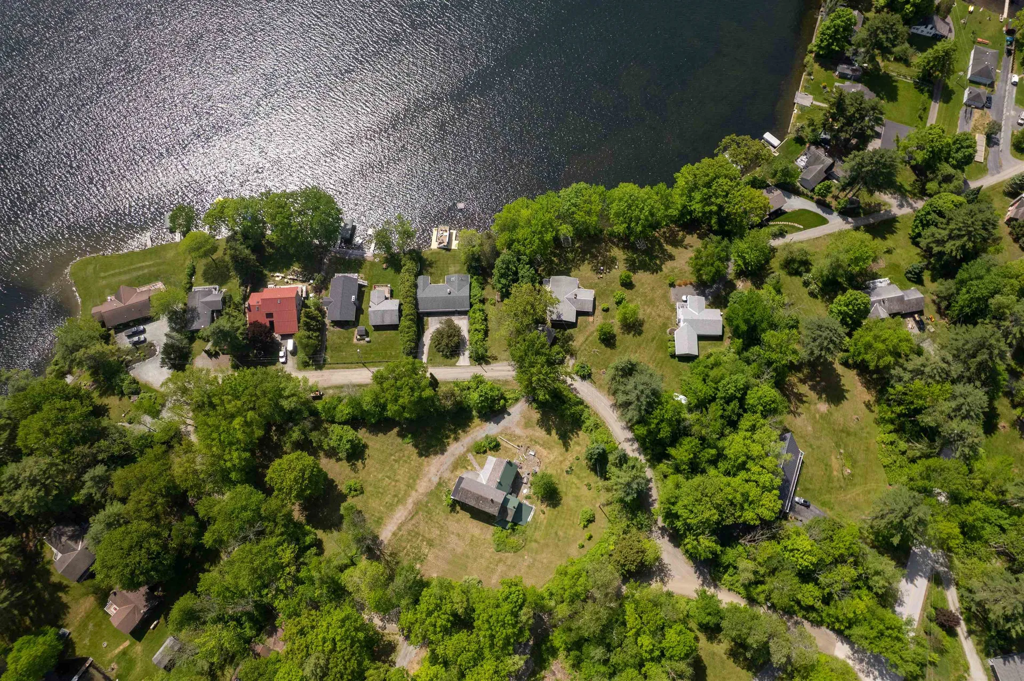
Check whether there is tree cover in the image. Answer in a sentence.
Yes, tree cover shows up in the scene.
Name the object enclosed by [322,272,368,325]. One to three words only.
house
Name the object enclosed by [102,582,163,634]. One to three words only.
house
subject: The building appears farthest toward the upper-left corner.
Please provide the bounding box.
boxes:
[92,281,168,329]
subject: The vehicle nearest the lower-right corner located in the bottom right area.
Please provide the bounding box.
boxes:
[794,496,814,508]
